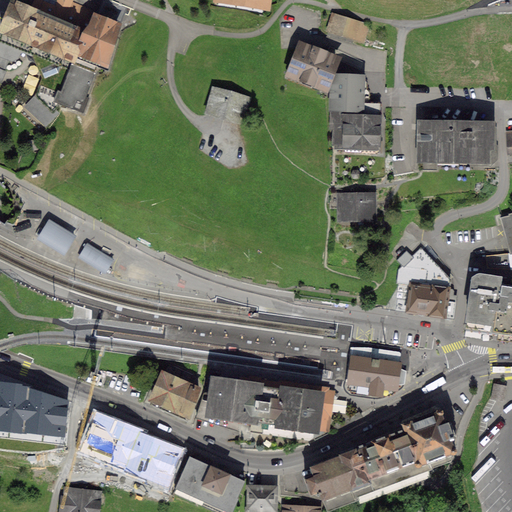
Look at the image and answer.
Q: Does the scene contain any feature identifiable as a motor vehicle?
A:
Yes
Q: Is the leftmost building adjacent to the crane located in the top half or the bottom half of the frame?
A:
bottom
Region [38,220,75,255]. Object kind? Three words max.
building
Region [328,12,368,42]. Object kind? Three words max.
barn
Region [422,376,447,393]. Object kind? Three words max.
vehicle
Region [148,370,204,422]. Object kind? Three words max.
house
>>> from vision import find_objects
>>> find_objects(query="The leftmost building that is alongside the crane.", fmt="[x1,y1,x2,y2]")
[0,378,70,446]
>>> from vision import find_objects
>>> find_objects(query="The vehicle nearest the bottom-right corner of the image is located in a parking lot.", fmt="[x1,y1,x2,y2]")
[471,456,496,482]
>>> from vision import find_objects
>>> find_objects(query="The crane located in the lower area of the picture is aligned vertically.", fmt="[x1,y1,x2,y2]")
[60,346,106,508]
